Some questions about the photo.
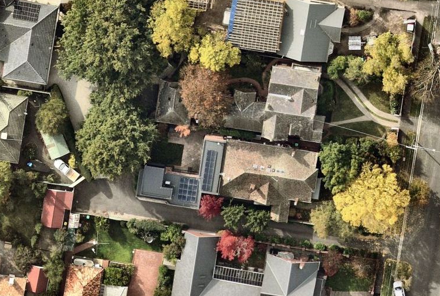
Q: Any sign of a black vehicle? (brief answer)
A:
No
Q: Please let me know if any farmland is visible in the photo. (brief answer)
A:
No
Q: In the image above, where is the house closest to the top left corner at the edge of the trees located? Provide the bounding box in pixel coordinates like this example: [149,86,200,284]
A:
[0,0,61,86]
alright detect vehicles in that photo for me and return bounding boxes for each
[53,156,79,184]
[392,279,405,296]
